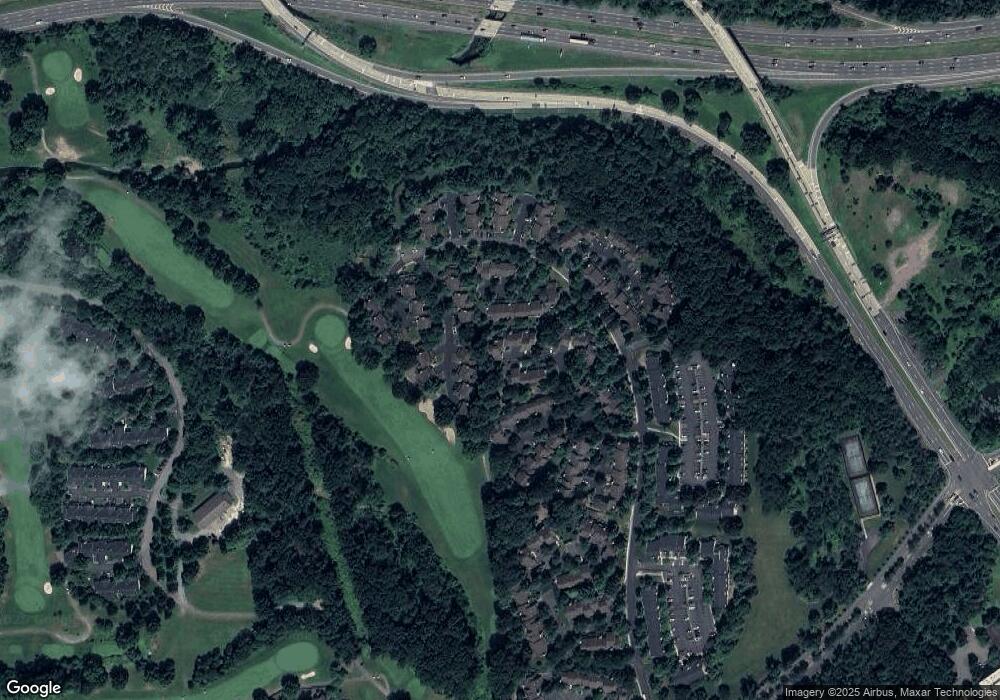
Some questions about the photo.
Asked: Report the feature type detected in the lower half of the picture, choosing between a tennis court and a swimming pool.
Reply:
tennis court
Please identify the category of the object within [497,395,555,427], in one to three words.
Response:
house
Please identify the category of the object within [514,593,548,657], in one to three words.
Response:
house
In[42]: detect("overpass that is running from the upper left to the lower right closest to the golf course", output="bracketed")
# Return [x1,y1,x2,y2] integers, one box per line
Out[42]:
[262,0,339,58]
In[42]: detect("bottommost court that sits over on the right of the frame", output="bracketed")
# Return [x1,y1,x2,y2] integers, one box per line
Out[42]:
[851,474,879,518]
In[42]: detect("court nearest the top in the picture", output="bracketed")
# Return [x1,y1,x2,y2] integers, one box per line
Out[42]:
[841,435,868,478]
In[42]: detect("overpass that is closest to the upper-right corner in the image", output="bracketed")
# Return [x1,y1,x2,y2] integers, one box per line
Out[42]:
[686,0,834,228]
